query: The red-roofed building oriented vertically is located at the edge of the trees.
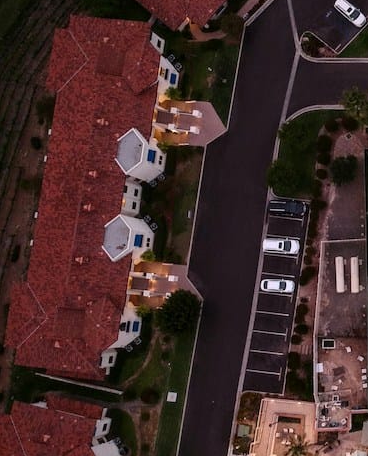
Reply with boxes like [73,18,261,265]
[3,16,179,380]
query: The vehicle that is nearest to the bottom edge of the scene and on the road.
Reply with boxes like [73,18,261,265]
[261,279,294,294]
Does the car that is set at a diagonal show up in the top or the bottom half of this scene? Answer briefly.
top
